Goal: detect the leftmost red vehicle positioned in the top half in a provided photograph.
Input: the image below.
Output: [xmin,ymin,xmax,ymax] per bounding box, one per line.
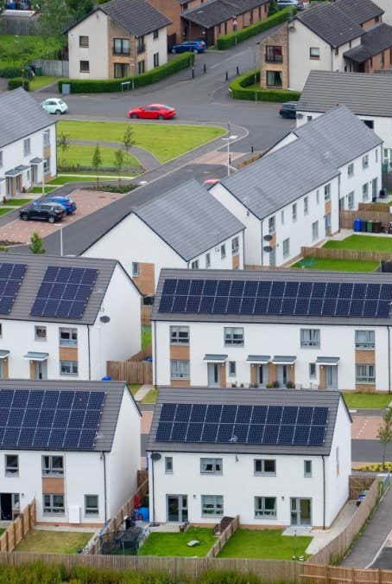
[128,101,174,118]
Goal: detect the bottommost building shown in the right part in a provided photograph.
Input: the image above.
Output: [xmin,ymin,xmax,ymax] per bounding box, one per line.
[147,370,351,528]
